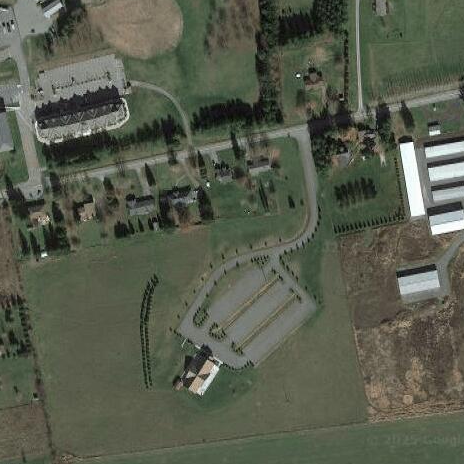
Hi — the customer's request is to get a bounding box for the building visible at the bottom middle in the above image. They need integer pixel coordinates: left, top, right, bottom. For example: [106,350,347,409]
[175,345,220,397]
